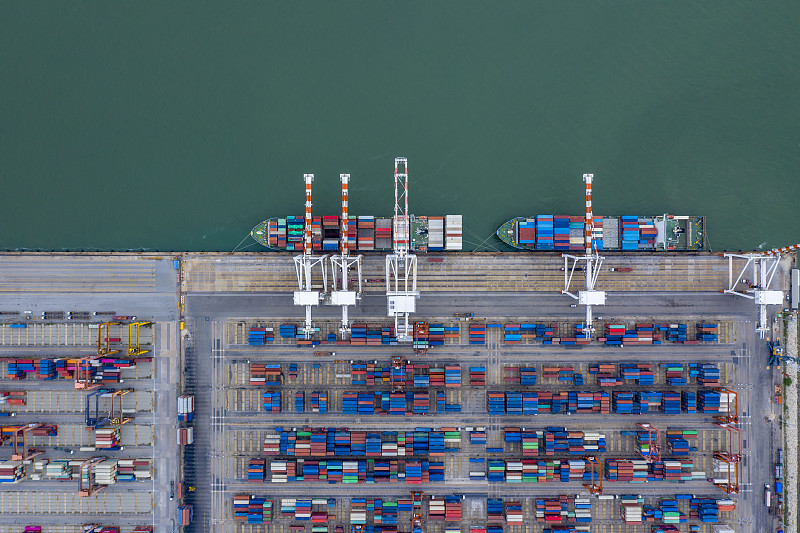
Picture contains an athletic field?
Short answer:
No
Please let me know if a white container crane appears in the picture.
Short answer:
Yes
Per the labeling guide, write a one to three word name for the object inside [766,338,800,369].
crane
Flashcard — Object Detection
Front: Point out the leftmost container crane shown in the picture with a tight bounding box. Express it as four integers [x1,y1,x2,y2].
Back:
[11,421,45,461]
